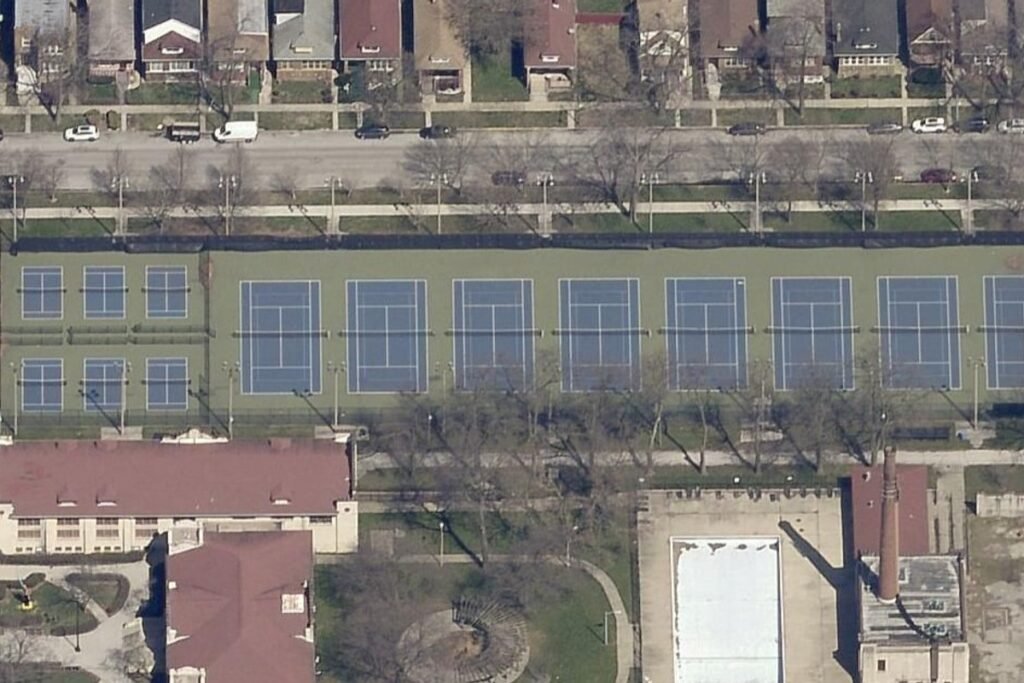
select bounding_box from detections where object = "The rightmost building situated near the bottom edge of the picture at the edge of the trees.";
[851,465,969,683]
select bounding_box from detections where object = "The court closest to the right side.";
[982,275,1024,389]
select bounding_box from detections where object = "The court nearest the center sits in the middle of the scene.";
[452,278,535,392]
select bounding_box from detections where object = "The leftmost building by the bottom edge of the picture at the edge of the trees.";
[0,425,371,683]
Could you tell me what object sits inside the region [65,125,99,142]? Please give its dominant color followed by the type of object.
white car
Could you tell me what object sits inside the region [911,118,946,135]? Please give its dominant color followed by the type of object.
white car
